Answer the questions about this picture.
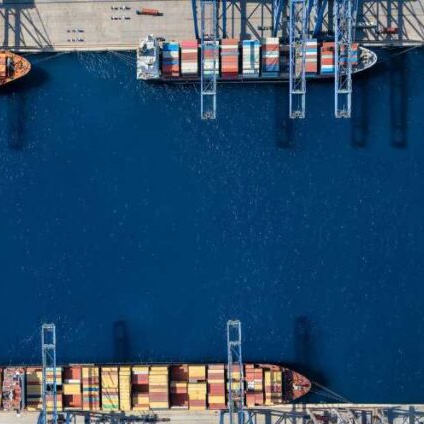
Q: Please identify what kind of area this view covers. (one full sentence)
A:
The area seen from above is a port.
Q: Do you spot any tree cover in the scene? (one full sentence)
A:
No, the picture contains no tree cover.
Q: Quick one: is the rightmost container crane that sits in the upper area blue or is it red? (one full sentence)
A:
The rightmost container crane that sits in the upper area looks blue in the image.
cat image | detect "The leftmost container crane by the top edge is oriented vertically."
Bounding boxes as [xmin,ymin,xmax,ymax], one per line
[178,0,226,119]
